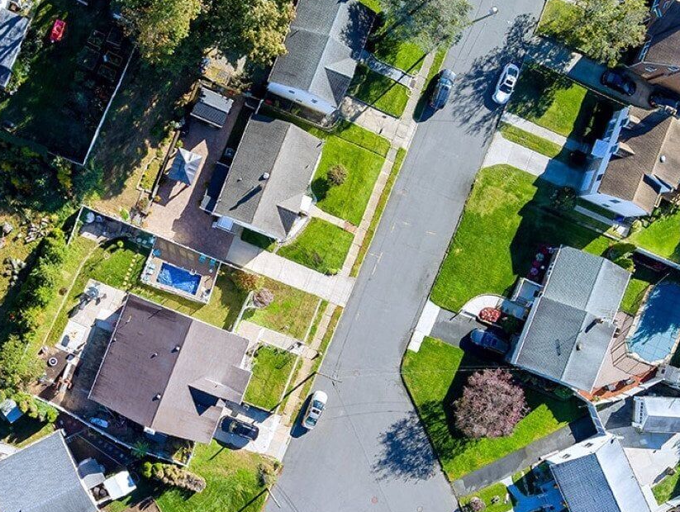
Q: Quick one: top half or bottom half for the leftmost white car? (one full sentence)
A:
The bottom half of the photo is where the leftmost white car is.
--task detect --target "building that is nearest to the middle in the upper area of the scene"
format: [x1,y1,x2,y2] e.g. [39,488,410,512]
[203,113,324,243]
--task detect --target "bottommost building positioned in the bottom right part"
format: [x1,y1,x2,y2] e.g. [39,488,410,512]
[542,436,650,512]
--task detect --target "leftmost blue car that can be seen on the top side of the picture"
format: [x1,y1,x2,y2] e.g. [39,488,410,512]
[427,65,458,113]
